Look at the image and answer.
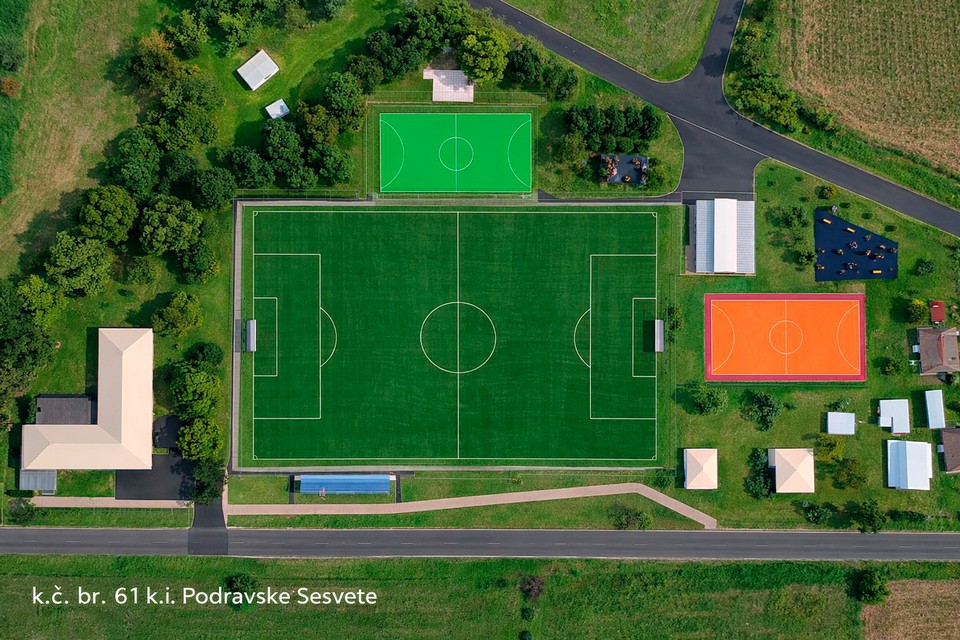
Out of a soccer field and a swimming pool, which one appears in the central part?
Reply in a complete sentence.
Looking in the central part, you will find a soccer field.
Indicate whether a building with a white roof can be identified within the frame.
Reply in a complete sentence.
Yes, the image includes a building with a white roof.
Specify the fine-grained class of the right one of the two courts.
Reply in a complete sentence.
From above, the right one of the two courts can be identified as a basketball court.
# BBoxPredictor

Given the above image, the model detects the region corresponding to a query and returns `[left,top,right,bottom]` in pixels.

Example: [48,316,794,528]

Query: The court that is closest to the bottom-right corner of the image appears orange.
[704,293,866,381]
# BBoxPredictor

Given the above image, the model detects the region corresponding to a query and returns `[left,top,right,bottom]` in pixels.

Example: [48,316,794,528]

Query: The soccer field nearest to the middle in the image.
[240,206,675,468]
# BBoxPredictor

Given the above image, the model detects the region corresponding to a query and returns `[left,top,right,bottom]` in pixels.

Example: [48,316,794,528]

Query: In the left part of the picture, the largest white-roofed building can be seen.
[22,328,154,469]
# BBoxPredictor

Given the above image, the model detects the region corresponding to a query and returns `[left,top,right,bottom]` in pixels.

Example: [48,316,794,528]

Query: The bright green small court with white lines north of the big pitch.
[373,104,537,198]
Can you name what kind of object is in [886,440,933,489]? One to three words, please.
barn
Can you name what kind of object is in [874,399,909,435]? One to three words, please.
building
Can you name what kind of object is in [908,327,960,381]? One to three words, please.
house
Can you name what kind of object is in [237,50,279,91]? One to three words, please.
shed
